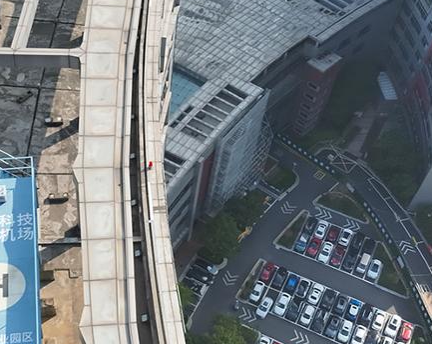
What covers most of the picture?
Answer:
buildings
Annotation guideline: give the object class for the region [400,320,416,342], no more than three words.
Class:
car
